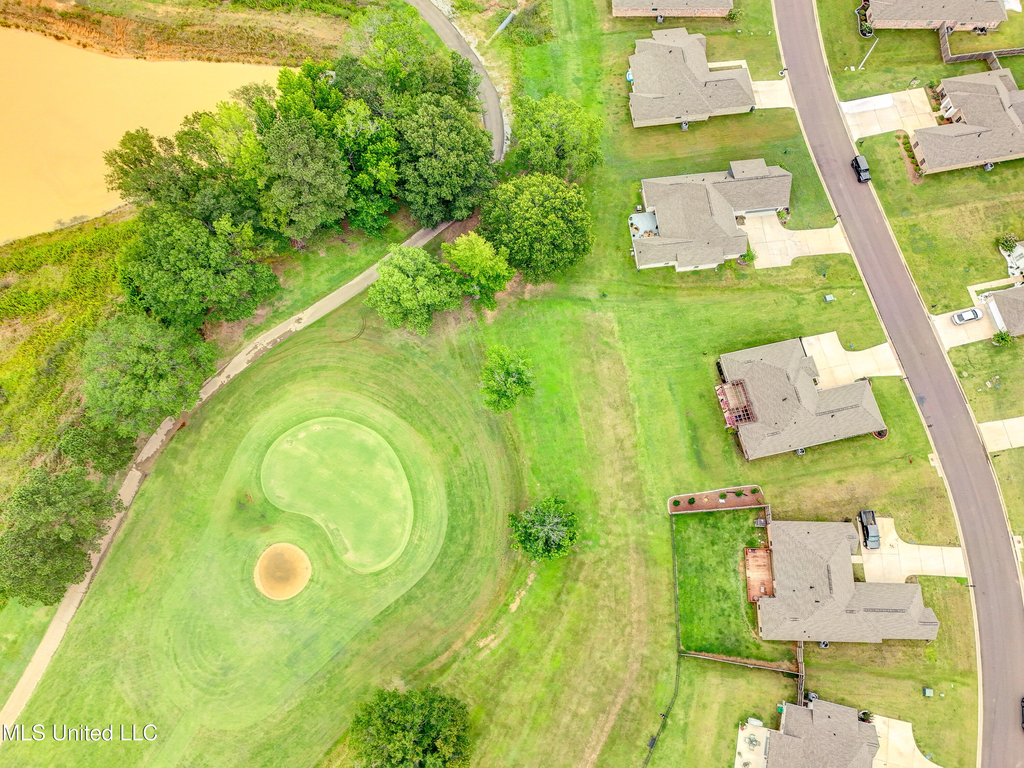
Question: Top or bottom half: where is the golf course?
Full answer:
Seen from above, the golf course lies in the bottom half of the view.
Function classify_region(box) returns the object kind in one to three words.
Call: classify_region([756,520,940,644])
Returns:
house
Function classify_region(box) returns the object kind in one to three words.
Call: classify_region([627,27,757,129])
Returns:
house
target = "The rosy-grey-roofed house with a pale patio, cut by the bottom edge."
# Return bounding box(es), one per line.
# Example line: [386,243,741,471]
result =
[763,697,879,768]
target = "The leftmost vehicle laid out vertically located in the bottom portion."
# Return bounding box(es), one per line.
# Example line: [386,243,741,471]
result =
[859,512,882,555]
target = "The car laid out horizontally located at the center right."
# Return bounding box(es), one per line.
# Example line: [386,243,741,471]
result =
[951,308,984,325]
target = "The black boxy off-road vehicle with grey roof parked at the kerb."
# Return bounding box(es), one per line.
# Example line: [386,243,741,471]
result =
[852,157,872,184]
